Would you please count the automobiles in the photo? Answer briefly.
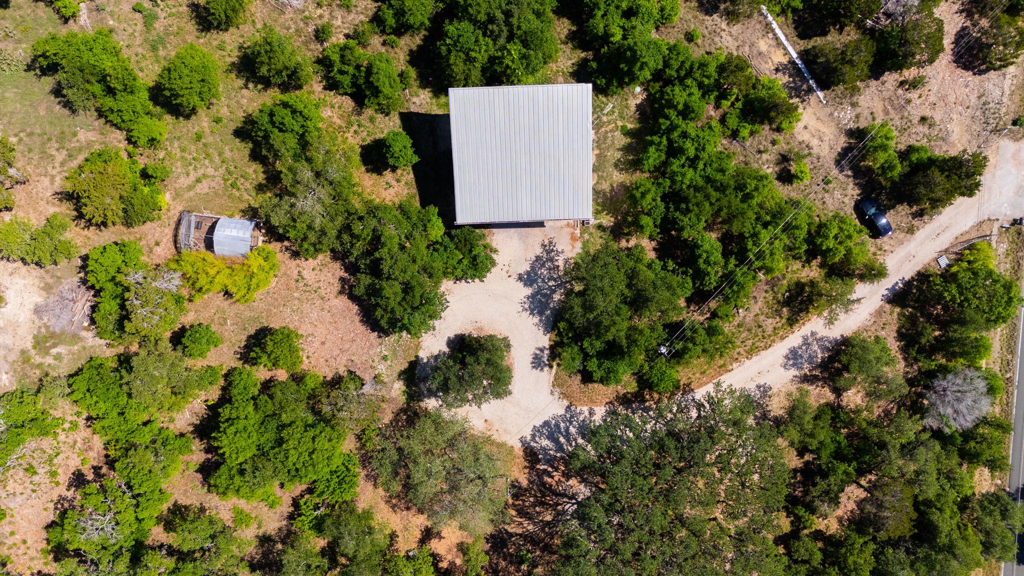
1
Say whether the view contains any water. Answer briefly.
No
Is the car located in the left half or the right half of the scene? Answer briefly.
right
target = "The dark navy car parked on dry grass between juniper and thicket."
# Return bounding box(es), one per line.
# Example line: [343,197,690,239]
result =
[858,197,893,240]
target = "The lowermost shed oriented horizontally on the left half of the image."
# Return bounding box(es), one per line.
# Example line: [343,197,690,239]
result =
[181,214,269,259]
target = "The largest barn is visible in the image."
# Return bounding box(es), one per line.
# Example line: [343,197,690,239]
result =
[448,82,595,226]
